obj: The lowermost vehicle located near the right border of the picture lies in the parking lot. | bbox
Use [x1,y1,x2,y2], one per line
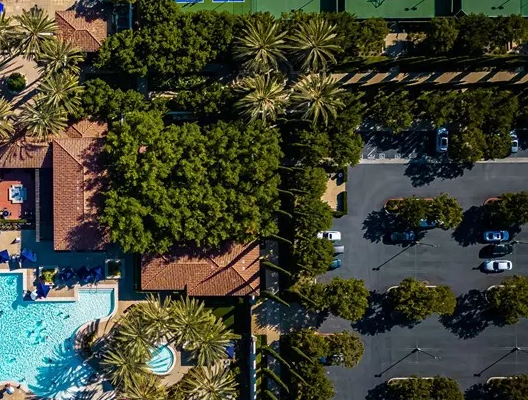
[486,259,514,273]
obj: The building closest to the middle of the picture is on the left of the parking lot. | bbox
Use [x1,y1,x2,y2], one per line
[141,239,260,297]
